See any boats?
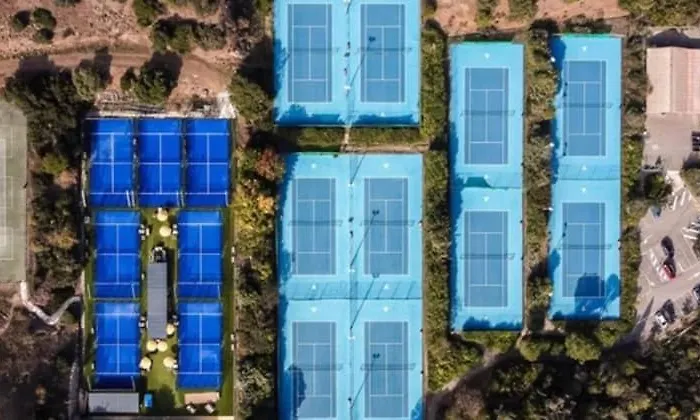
No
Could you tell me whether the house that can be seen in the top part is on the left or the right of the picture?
right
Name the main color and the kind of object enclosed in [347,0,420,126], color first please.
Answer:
blue tennis court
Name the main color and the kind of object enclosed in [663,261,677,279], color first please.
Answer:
red car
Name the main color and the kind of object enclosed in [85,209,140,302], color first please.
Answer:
blue sports court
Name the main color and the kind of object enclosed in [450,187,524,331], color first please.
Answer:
blue tennis court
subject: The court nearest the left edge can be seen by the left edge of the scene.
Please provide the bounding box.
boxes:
[0,103,27,283]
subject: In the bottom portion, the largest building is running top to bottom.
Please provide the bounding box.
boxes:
[147,263,170,339]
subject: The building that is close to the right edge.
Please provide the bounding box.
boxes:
[643,46,700,116]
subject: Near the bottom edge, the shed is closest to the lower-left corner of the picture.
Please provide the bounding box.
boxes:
[88,390,143,412]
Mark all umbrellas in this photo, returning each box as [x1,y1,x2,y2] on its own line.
[167,323,176,334]
[164,356,176,367]
[141,356,152,367]
[147,340,158,352]
[160,225,172,237]
[157,210,168,221]
[158,340,169,351]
